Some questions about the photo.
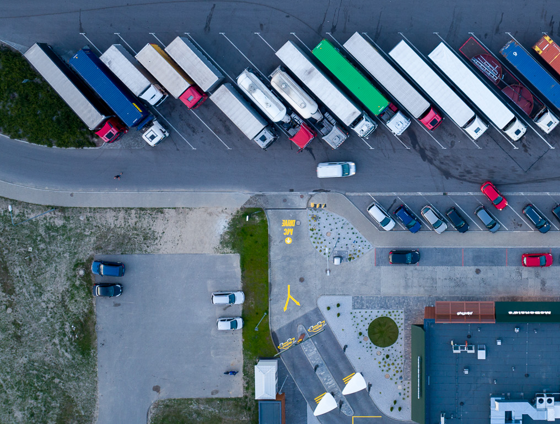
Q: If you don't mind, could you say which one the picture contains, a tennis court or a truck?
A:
truck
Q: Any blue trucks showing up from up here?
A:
Yes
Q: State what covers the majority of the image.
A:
paved ground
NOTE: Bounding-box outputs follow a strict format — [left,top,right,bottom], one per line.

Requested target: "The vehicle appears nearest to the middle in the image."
[316,162,356,178]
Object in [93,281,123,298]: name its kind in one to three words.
car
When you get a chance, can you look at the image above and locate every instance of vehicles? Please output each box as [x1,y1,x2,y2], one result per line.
[497,39,560,112]
[269,65,349,149]
[523,203,551,235]
[68,47,173,149]
[217,315,245,333]
[428,42,528,142]
[312,37,412,135]
[276,40,378,140]
[389,40,489,140]
[421,205,449,235]
[529,33,560,76]
[445,206,470,233]
[220,372,238,378]
[23,42,129,144]
[99,44,172,109]
[482,180,507,210]
[212,290,246,306]
[134,43,211,111]
[394,204,422,235]
[343,31,444,131]
[236,67,317,148]
[474,205,502,232]
[91,260,126,278]
[389,249,420,267]
[93,281,123,298]
[316,162,356,178]
[366,200,396,231]
[521,252,553,269]
[551,204,560,222]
